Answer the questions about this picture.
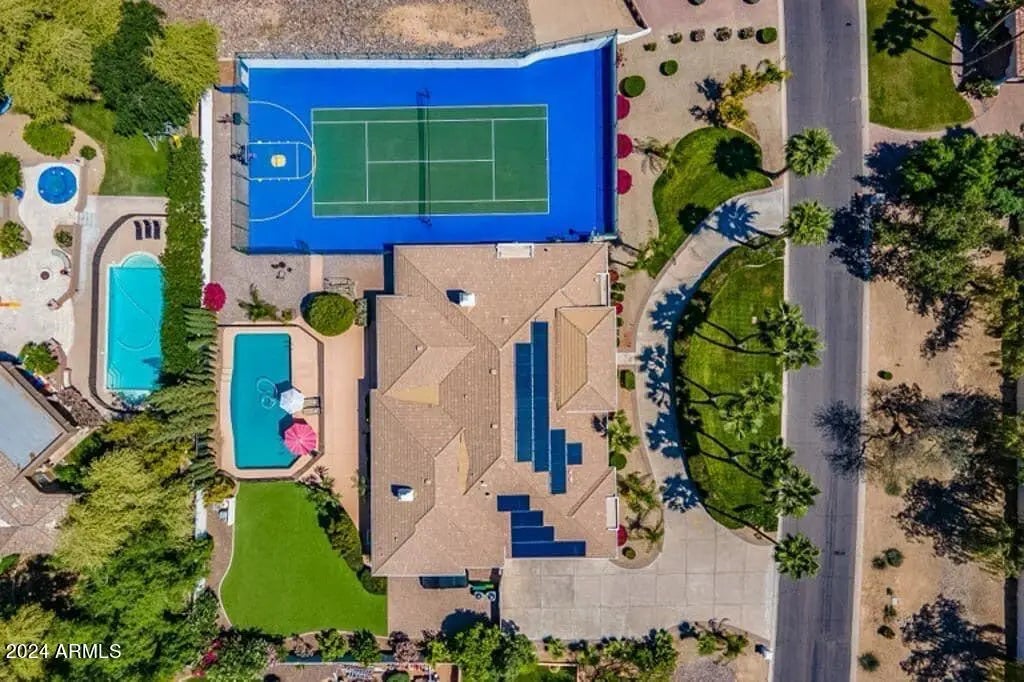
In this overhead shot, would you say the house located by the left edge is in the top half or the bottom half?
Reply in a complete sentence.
The house located by the left edge is in the bottom half of the image.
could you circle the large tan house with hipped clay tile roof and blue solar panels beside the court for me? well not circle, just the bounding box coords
[370,242,618,578]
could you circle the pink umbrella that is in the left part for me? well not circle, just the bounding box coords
[285,422,317,454]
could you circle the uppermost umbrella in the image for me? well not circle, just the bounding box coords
[280,389,304,414]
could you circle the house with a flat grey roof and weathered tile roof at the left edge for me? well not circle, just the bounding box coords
[0,338,89,555]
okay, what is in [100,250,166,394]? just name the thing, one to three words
swimming pool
